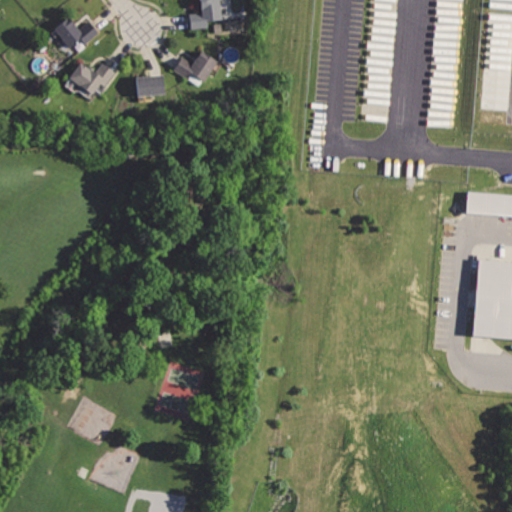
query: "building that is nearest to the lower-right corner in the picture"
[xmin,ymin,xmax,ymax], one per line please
[474,260,512,340]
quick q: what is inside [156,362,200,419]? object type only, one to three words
sports court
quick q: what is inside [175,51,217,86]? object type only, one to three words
house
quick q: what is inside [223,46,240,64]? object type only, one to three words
swimming pool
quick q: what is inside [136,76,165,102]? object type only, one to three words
house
